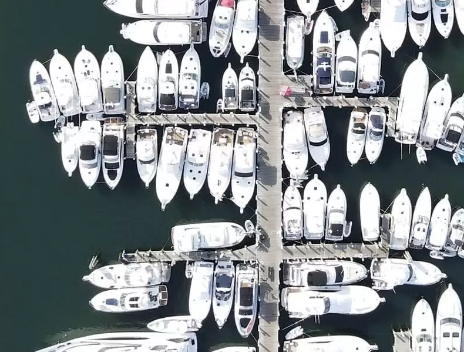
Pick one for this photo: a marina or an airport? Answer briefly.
marina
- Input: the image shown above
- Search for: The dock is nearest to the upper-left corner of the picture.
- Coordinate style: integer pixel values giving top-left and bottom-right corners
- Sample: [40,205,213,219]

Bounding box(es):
[126,81,257,159]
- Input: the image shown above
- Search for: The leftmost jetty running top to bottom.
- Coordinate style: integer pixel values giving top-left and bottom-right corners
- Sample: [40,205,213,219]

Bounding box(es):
[256,0,284,352]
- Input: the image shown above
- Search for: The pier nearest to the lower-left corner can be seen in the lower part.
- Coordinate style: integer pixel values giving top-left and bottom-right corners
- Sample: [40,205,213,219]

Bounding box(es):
[119,243,257,264]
